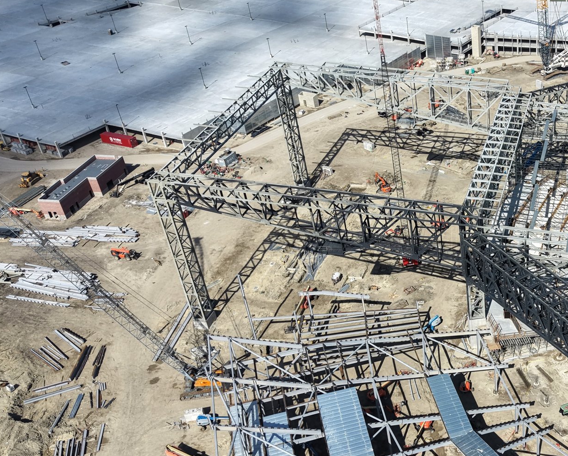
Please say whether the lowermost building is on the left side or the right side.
left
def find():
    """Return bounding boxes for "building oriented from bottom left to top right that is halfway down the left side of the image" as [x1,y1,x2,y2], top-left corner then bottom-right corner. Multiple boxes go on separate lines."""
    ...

[36,153,130,218]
